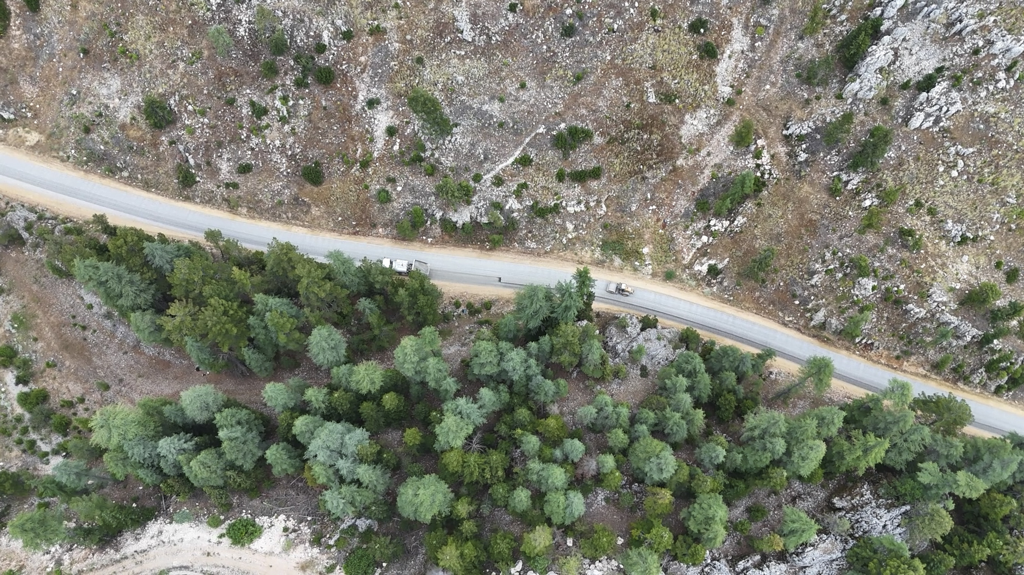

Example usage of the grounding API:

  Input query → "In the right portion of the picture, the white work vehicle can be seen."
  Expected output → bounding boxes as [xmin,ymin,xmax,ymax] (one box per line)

[605,280,636,299]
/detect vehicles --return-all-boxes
[380,257,431,280]
[605,280,636,299]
